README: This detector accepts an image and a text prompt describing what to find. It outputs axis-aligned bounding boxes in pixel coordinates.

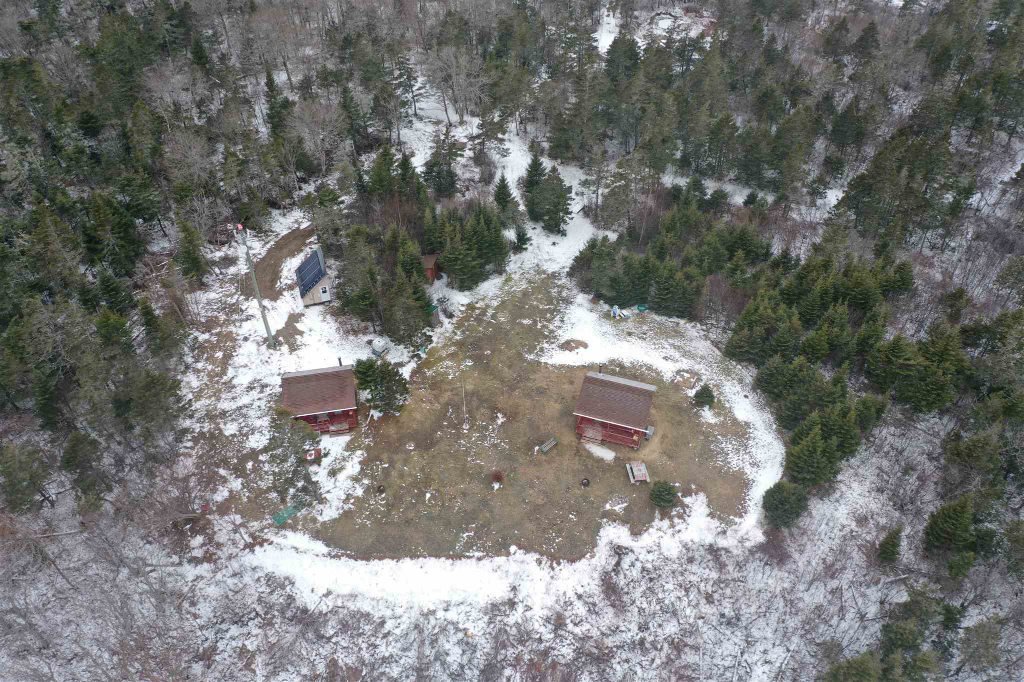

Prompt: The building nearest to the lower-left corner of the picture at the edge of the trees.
[279,359,359,440]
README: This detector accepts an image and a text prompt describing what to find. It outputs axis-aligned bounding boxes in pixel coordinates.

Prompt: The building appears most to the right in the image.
[572,367,658,450]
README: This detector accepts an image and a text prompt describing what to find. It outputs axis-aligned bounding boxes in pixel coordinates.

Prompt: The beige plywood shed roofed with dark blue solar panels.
[296,244,333,305]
